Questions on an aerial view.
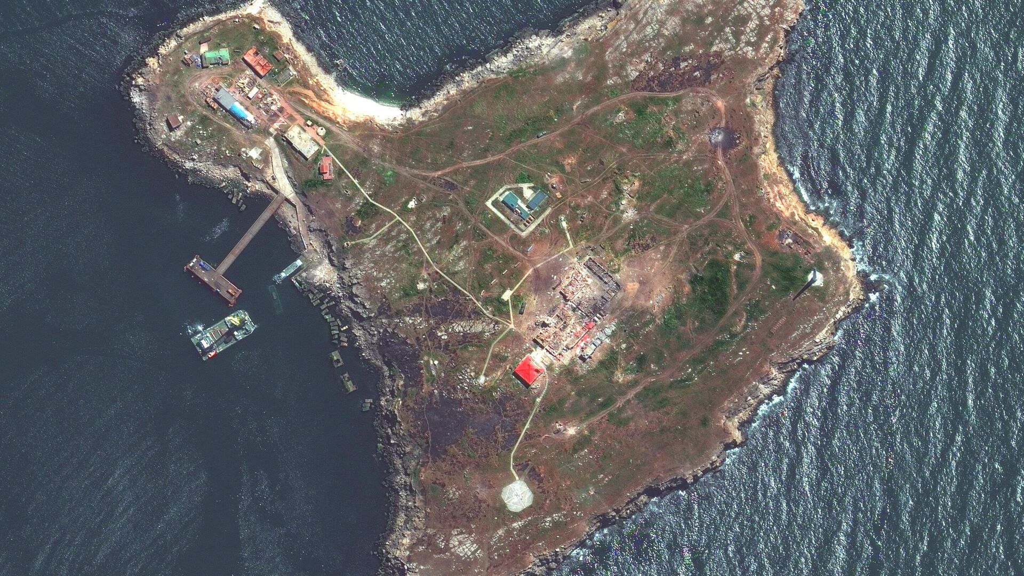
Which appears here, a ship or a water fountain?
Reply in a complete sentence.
Of the two, only a ship appears.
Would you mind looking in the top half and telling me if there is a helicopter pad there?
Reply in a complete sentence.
No, I see no helicopter pad in the top half.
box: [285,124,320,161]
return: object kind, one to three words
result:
building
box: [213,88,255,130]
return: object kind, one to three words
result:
building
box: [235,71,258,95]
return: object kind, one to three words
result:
house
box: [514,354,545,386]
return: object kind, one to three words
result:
house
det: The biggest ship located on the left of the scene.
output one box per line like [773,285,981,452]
[191,310,255,360]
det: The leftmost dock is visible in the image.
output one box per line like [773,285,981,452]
[184,196,281,307]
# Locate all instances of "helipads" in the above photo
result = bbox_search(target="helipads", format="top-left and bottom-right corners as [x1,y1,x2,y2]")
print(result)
[501,480,534,512]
